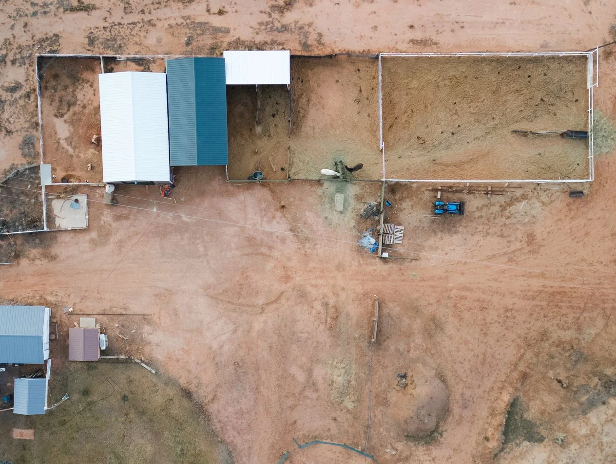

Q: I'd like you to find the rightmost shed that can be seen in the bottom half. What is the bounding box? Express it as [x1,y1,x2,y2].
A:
[68,327,101,360]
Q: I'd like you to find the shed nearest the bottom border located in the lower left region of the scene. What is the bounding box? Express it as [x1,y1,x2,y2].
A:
[13,377,49,415]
